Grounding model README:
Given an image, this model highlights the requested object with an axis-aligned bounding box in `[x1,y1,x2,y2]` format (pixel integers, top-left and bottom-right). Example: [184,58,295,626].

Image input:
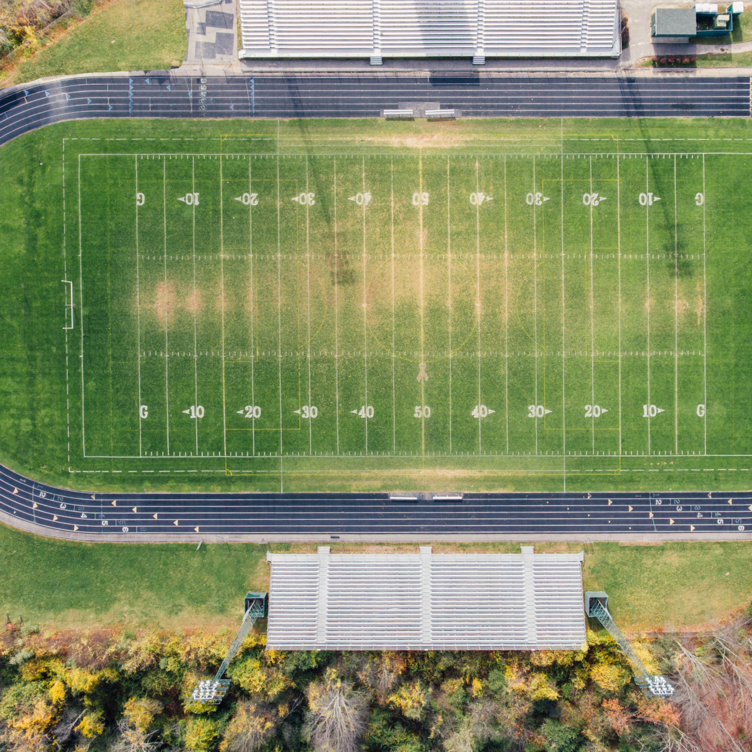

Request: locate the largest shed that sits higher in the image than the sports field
[653,8,697,39]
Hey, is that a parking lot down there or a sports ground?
sports ground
